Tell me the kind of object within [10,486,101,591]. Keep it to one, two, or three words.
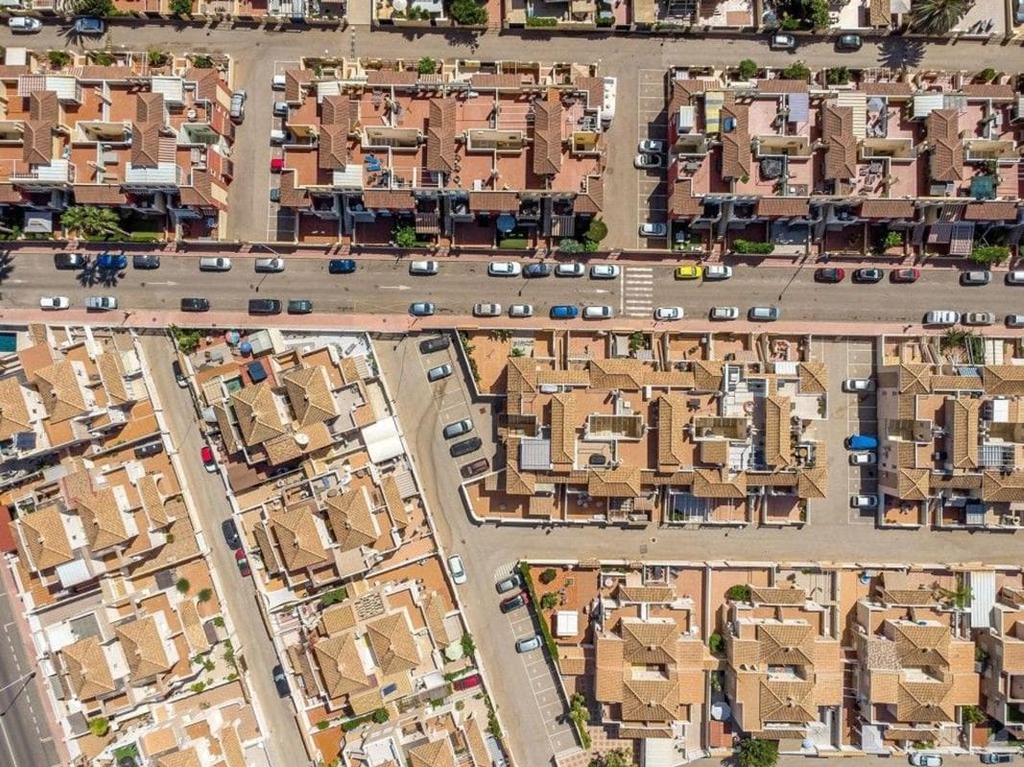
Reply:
house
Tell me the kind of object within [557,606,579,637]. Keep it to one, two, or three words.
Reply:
gazebo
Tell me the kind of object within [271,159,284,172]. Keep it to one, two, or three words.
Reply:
vehicle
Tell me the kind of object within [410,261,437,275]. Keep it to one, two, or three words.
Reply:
car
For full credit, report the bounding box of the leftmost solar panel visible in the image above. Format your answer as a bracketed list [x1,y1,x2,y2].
[13,430,38,453]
